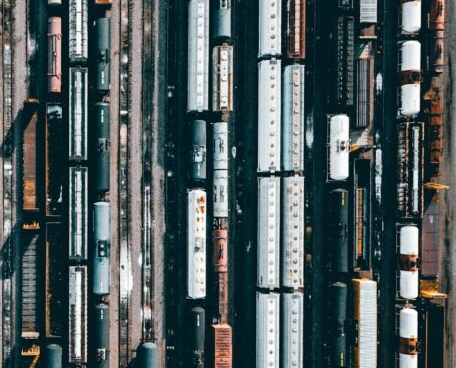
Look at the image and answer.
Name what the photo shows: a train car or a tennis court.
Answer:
train car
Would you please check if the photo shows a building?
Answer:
No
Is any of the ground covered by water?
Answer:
No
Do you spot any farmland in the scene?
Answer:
No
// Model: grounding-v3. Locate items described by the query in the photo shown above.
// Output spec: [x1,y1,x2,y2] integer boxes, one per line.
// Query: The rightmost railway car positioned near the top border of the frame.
[423,0,440,81]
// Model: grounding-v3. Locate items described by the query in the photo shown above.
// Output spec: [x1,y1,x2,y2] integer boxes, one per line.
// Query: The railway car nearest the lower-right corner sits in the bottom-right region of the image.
[397,301,424,368]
